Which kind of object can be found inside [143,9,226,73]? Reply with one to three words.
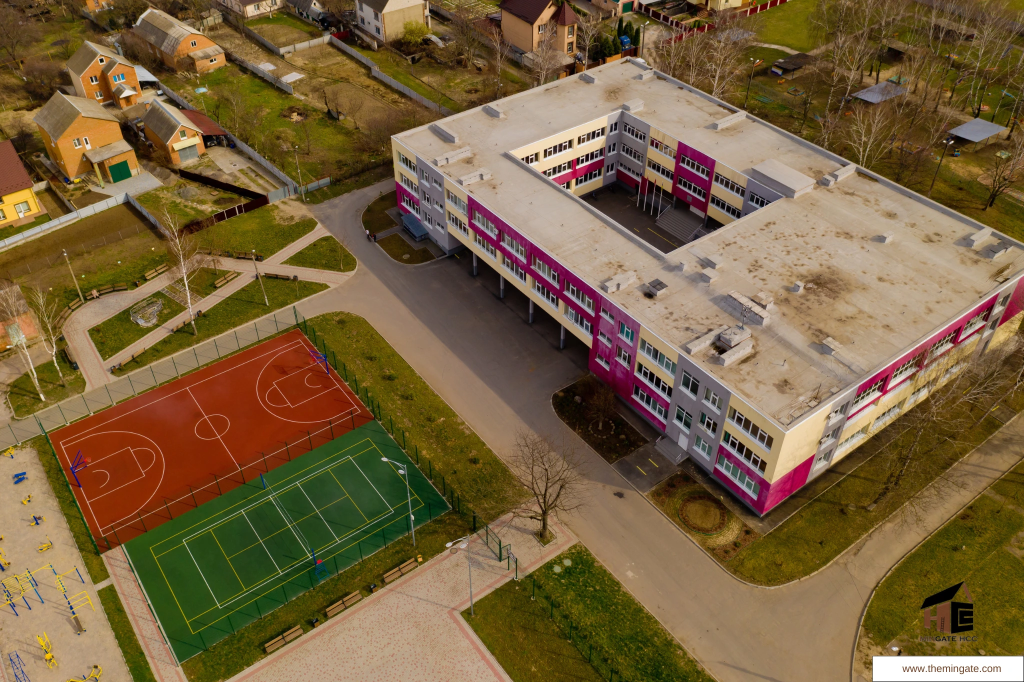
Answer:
house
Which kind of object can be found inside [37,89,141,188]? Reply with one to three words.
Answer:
house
